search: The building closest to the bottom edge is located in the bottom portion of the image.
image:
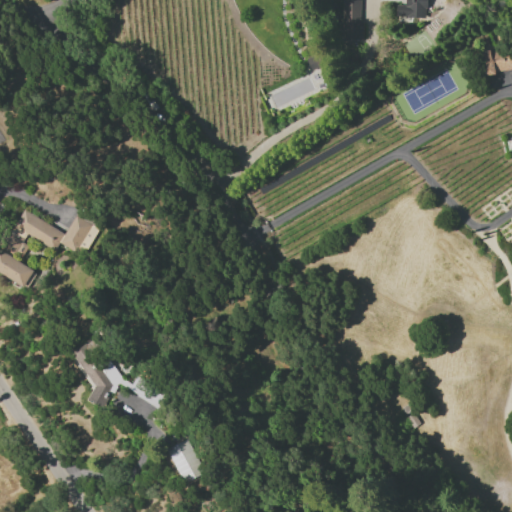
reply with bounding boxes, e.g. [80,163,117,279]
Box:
[170,444,203,480]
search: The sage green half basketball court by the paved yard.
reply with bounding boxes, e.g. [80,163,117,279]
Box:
[406,30,438,53]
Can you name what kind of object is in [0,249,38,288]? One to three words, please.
house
